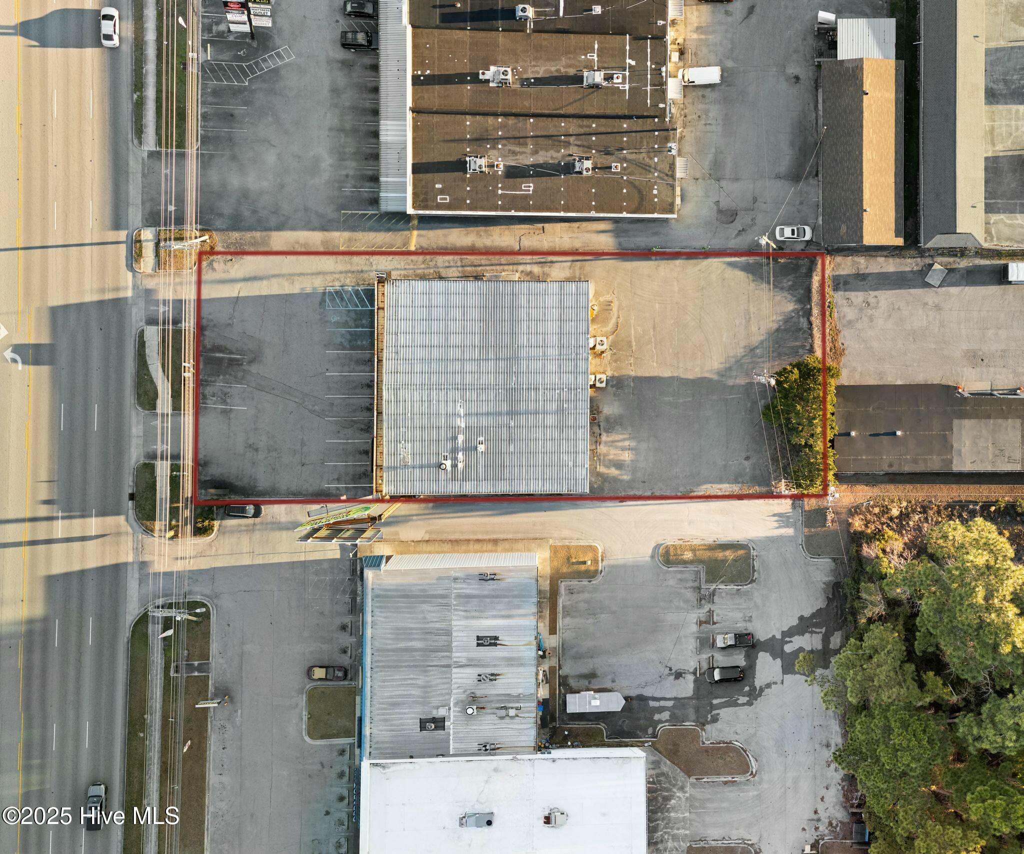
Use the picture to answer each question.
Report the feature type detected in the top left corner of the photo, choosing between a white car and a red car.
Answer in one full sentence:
It is a white car that can be seen in the top left corner of the photo.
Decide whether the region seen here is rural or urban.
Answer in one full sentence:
The land in this view is best described as urban.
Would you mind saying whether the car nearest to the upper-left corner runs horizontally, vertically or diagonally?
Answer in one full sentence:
From this overhead view, the car nearest to the upper-left corner appears to run vertically.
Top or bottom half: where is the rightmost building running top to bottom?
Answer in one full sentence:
The rightmost building running top to bottom sits in the top half of the picture.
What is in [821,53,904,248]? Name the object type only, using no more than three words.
building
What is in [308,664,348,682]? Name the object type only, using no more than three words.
car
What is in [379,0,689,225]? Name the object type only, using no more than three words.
building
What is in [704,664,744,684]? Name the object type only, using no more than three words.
vehicle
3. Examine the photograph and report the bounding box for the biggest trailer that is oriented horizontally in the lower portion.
[566,686,626,712]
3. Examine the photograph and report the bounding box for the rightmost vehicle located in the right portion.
[987,262,1024,285]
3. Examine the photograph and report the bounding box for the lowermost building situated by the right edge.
[822,384,1024,472]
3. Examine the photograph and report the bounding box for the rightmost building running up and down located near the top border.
[902,0,985,250]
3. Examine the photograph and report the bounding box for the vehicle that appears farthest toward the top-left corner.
[101,9,121,50]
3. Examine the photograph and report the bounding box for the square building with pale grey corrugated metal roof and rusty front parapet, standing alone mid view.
[372,272,591,495]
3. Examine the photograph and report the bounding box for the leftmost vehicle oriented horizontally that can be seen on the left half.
[225,502,264,520]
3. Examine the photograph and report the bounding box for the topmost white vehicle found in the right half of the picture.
[678,64,724,88]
